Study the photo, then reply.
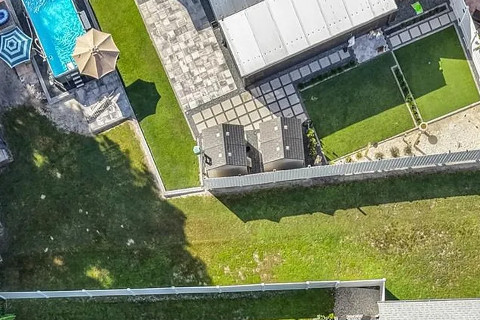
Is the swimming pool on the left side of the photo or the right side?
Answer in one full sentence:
The swimming pool is on the left side of the image.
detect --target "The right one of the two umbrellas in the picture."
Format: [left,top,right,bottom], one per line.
[72,31,121,80]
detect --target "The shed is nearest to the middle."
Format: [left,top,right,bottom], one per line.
[203,124,247,178]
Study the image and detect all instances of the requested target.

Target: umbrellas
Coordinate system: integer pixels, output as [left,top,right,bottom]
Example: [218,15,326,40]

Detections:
[0,30,33,69]
[72,31,121,80]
